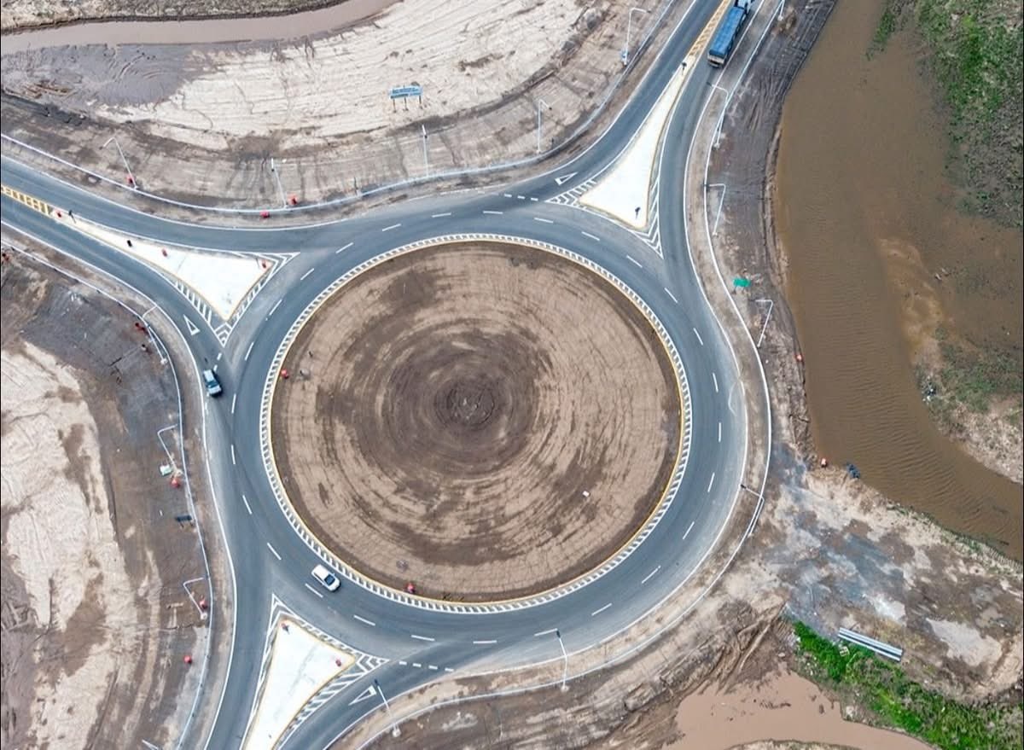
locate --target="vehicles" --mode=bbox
[203,369,222,397]
[311,563,339,590]
[707,0,751,68]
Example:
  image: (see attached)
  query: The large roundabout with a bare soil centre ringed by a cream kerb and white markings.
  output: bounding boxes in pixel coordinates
[0,0,764,750]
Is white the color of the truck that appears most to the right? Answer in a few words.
No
